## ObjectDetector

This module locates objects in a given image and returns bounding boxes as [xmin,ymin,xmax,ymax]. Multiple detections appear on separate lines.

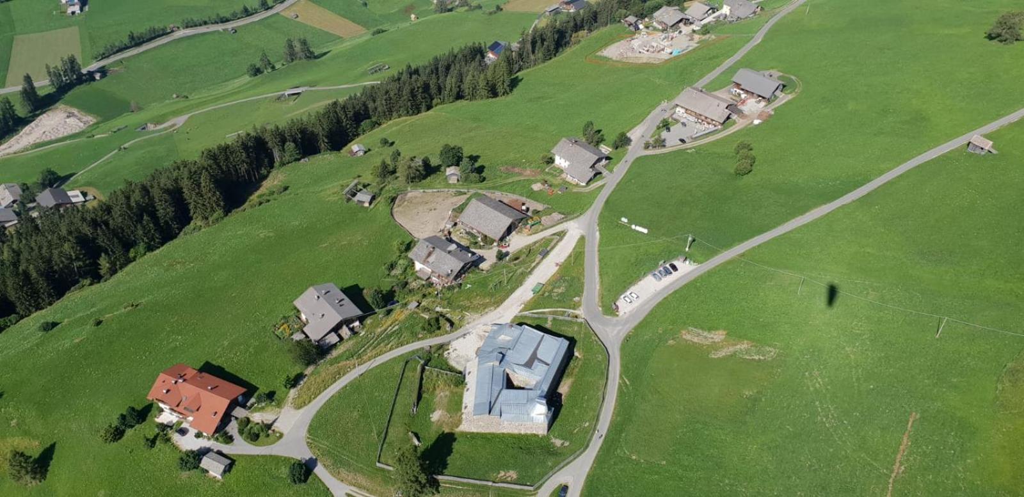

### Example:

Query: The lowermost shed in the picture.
[201,454,234,478]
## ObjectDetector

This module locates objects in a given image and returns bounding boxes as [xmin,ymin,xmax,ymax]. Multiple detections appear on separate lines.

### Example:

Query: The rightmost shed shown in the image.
[966,135,996,155]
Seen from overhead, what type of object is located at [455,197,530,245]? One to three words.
barn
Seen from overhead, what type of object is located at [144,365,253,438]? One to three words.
house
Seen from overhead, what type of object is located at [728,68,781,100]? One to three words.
barn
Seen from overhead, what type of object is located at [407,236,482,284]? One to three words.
house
